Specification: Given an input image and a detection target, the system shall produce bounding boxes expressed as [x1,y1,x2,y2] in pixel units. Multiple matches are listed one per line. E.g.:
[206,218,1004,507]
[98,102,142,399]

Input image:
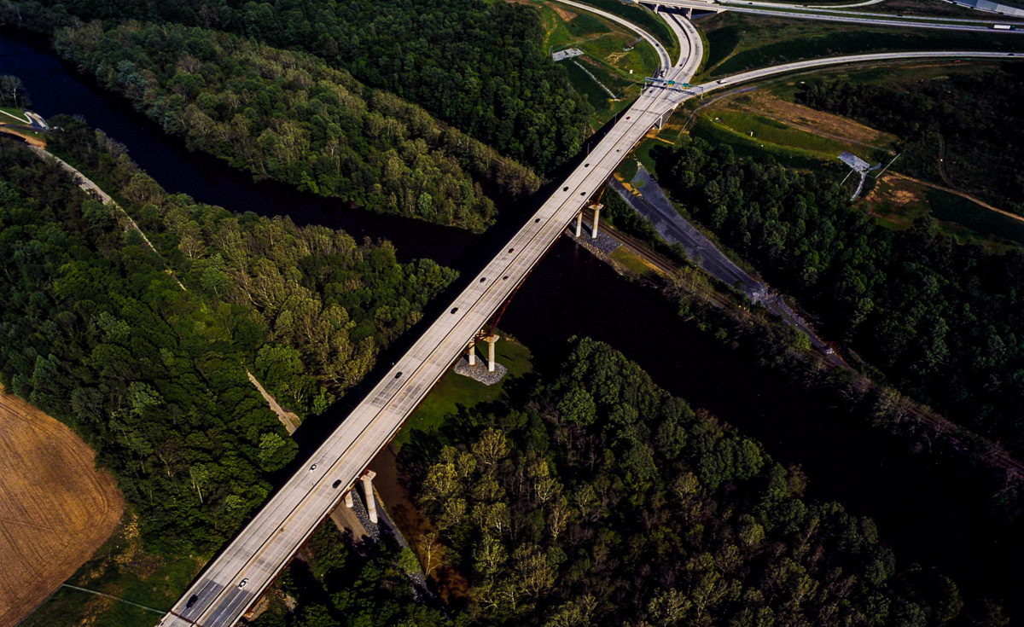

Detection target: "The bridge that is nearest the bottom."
[152,98,683,627]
